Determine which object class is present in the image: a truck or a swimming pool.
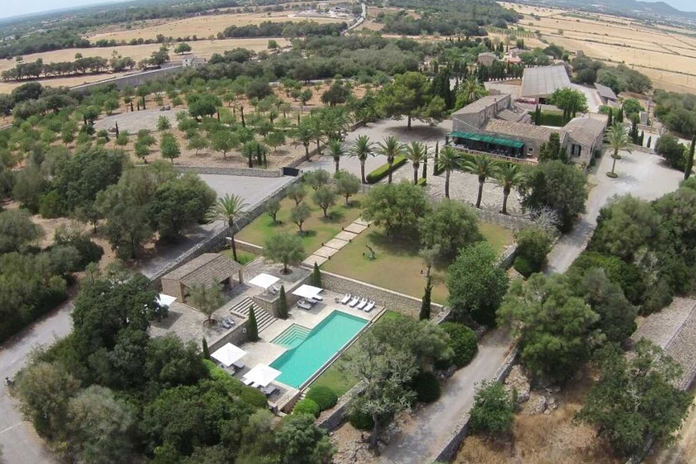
swimming pool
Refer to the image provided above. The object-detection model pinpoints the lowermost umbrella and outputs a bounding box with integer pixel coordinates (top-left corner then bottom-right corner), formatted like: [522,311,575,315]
[235,363,281,397]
